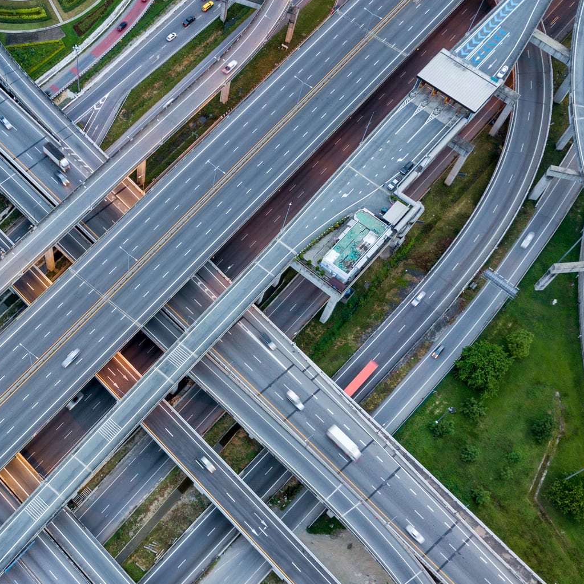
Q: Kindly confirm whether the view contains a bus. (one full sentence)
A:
Yes, this view includes a bus.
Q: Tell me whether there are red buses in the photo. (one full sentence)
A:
Yes, a red bus appears in the view.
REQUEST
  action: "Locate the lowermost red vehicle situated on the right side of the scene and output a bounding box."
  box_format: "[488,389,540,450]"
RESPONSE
[342,352,385,395]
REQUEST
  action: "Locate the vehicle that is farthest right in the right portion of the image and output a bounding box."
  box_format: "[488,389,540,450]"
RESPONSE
[522,228,537,246]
